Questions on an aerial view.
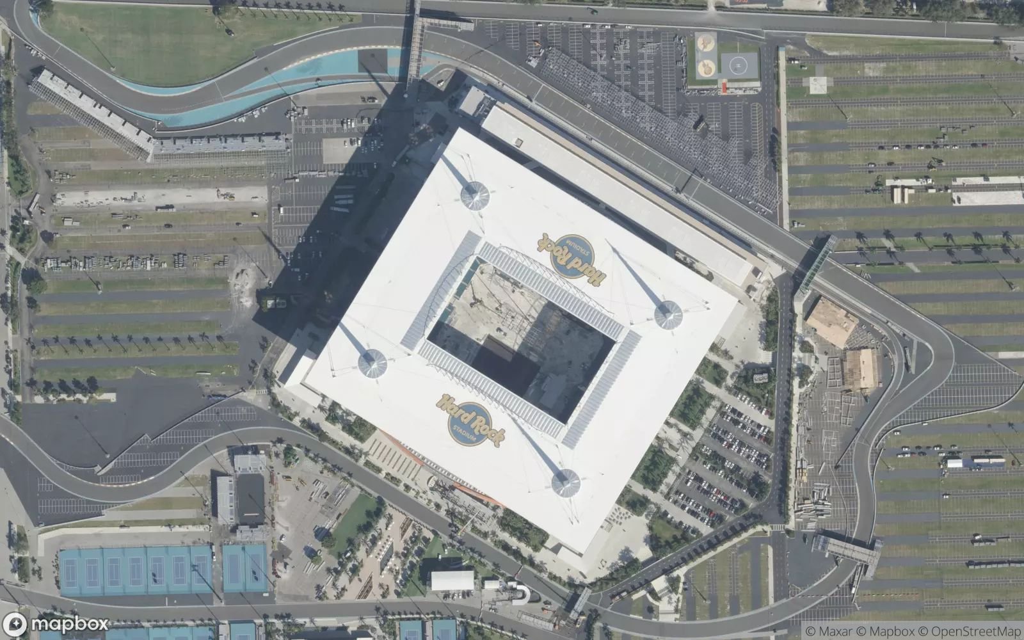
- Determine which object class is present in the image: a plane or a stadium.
stadium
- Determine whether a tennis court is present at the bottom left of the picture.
Yes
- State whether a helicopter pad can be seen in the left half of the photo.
No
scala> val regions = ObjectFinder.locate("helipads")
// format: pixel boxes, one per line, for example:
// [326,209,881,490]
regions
[721,44,757,79]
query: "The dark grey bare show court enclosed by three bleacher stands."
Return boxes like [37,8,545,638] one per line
[237,474,264,524]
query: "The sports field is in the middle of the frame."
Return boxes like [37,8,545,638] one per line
[428,262,614,423]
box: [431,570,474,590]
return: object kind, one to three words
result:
building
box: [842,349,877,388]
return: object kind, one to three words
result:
shed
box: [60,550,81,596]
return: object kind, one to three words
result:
tennis court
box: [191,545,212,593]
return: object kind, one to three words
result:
tennis court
